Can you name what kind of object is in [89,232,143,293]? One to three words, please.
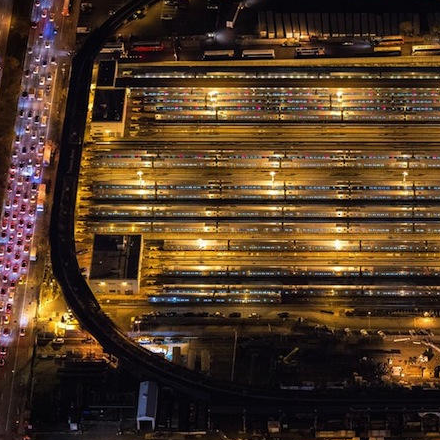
building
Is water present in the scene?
No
